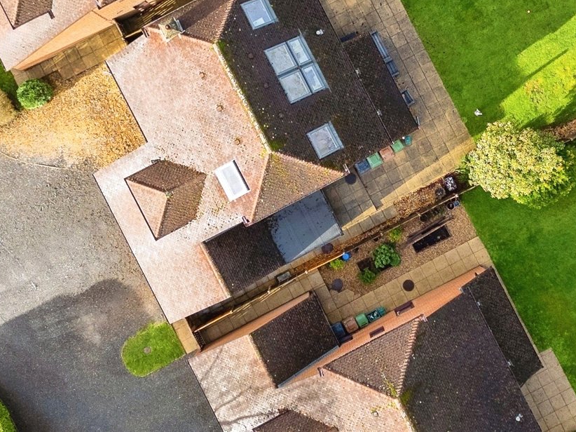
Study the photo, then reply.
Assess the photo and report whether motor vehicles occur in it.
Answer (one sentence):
No, the photo shows no motor vehicle.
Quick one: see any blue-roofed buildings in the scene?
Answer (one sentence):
No, there is no blue-roofed building in the image.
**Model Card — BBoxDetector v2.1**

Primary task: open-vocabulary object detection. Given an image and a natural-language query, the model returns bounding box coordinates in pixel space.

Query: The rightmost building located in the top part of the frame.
[93,0,419,323]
